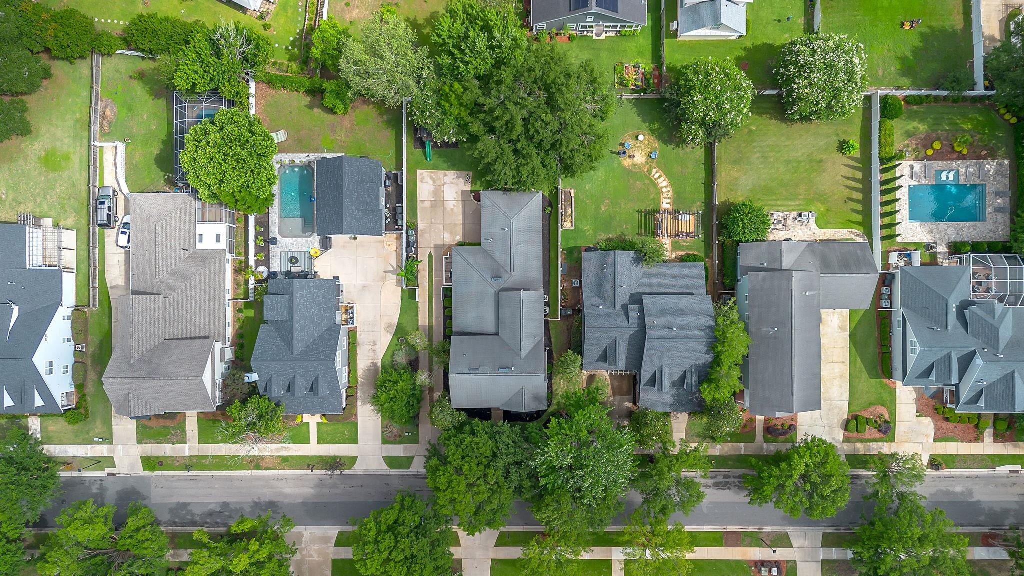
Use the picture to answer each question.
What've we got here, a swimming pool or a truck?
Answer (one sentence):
Visible in the photo is a swimming pool.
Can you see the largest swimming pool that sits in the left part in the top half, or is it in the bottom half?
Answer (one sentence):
Seen from above, the largest swimming pool that sits in the left part lies in the top half of the view.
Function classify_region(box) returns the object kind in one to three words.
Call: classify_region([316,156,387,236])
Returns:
building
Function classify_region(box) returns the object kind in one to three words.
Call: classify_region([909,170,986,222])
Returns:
swimming pool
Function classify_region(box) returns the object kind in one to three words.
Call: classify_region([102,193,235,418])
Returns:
house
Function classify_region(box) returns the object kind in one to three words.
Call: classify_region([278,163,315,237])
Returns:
swimming pool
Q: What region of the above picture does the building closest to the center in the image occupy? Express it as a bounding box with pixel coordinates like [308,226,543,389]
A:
[443,191,547,412]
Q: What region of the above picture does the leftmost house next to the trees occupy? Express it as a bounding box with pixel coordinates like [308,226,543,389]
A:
[0,223,82,417]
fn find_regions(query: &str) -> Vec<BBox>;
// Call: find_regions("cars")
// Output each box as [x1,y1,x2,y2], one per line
[94,186,117,227]
[113,210,130,249]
